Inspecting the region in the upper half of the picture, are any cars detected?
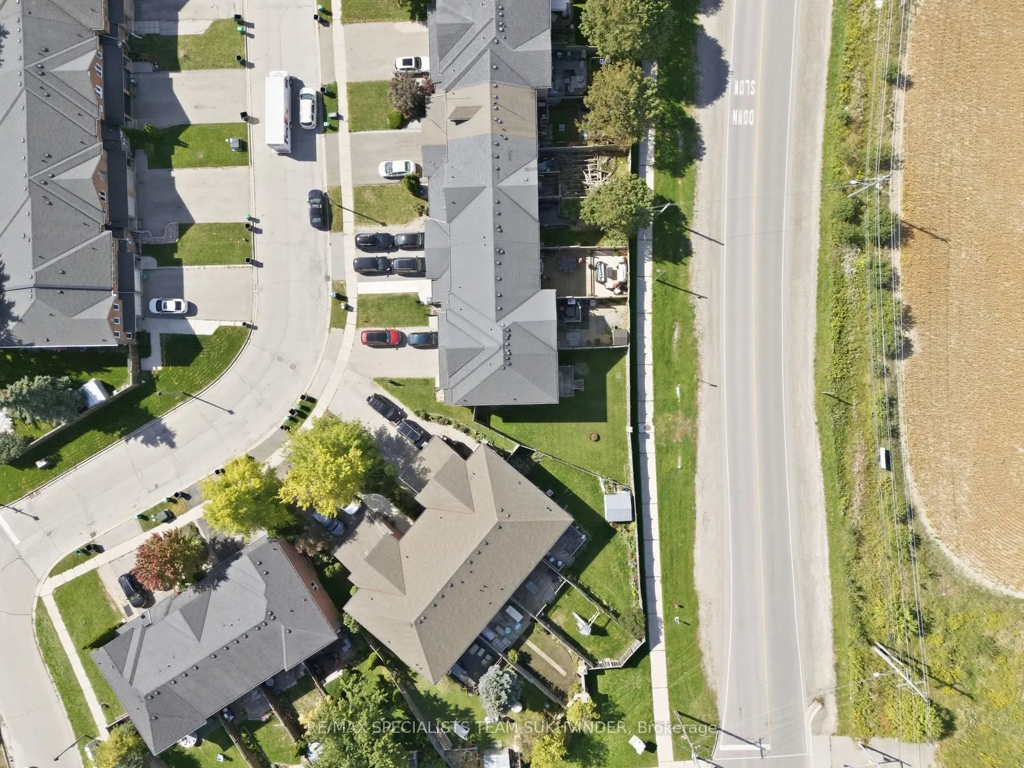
Yes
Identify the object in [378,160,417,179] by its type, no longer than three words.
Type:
car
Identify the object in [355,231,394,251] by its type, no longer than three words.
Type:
car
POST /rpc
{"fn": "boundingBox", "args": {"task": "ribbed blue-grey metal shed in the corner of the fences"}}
[604,490,632,522]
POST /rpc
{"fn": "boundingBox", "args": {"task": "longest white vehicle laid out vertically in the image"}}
[265,71,291,156]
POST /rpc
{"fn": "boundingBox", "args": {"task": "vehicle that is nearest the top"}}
[394,54,429,76]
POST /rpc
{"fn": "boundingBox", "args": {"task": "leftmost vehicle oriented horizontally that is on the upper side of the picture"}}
[150,297,190,316]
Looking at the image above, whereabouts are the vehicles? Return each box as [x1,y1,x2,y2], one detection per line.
[150,297,190,316]
[394,231,425,250]
[361,328,402,347]
[297,87,318,130]
[396,418,433,448]
[353,255,392,275]
[394,54,429,76]
[366,391,406,424]
[309,506,347,538]
[265,71,291,156]
[406,330,438,349]
[378,160,417,179]
[392,256,426,275]
[119,570,149,608]
[355,231,394,251]
[306,190,326,229]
